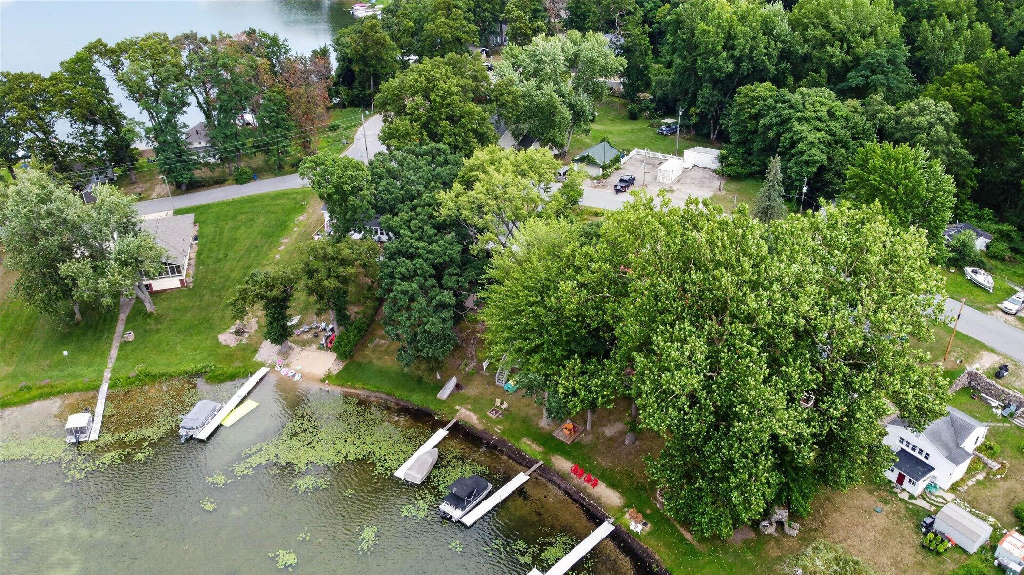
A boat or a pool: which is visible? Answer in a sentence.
The one in the frame is a boat.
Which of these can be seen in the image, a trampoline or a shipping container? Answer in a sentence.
Of the two, only a shipping container appears.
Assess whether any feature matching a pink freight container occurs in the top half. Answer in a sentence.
No, the scene shows no pink freight container in the top half.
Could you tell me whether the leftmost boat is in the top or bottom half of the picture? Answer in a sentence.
The leftmost boat sits in the bottom half of the picture.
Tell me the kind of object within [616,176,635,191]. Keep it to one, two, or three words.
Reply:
vehicle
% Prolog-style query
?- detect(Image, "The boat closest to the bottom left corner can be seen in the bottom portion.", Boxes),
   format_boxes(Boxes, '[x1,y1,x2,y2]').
[64,406,91,447]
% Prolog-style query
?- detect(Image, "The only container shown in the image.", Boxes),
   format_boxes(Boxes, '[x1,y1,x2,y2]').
[657,158,683,183]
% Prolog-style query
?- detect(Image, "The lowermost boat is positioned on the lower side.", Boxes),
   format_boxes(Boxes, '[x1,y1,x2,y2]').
[446,470,498,520]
